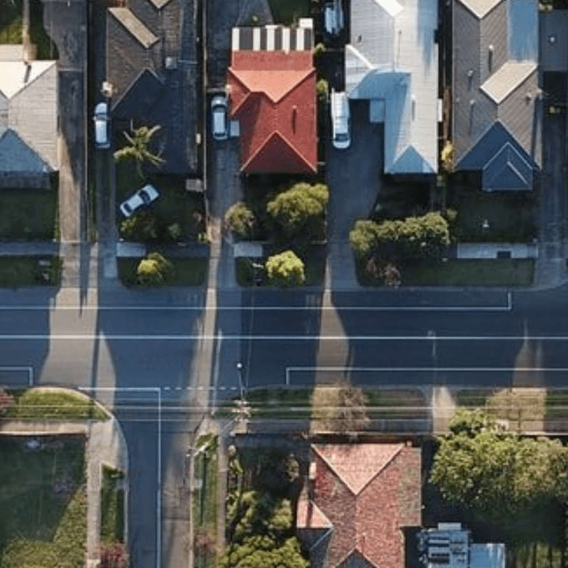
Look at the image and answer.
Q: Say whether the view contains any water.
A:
No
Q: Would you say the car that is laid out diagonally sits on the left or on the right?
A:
left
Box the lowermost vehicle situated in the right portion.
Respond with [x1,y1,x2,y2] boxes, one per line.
[332,91,351,147]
